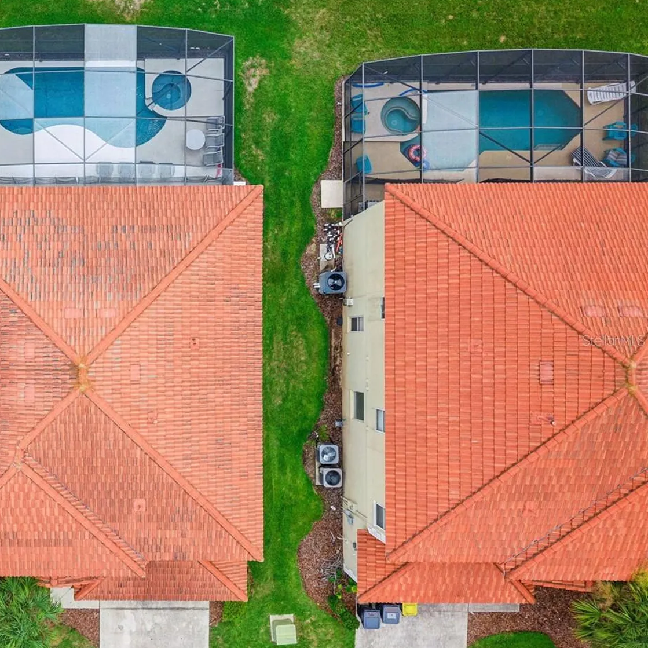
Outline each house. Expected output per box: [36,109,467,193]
[341,179,648,606]
[0,182,267,605]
